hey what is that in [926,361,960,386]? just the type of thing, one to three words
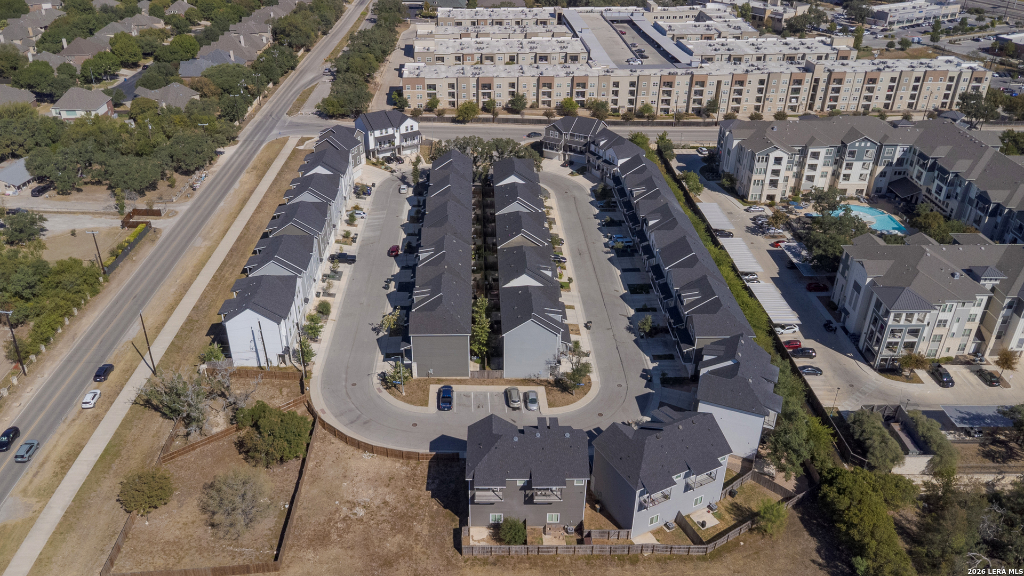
truck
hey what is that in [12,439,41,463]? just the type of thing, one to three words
car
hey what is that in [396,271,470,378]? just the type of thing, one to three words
house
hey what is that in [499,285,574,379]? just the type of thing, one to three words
house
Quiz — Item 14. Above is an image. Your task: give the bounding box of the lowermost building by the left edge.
[0,156,34,192]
